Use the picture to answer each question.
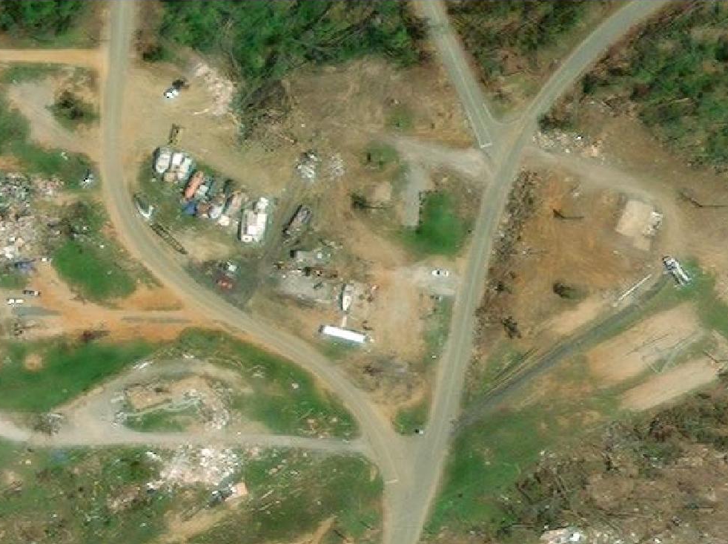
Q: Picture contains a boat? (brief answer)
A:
Yes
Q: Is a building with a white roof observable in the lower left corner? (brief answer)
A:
No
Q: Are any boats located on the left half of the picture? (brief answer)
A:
Yes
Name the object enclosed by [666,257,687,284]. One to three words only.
truck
